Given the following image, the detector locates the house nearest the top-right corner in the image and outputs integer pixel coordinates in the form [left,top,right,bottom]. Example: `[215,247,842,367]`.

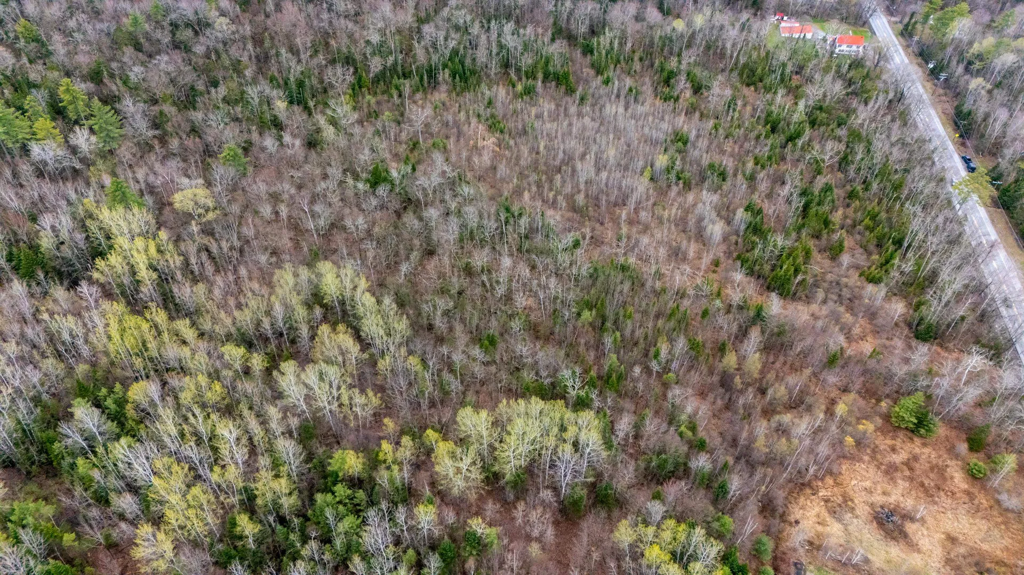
[824,32,869,55]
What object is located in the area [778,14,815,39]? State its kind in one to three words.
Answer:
barn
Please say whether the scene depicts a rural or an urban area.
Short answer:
rural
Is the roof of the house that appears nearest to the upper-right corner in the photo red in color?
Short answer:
Yes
